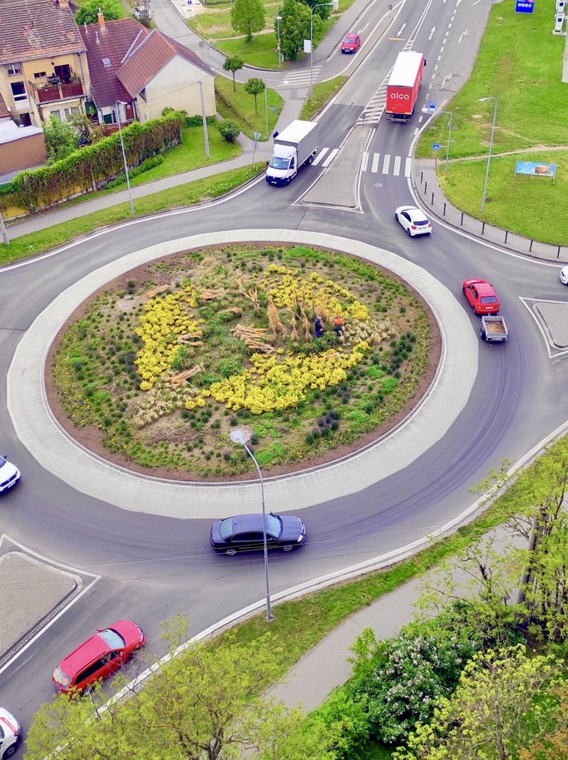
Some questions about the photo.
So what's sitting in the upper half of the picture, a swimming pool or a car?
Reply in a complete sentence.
Visible in the upper half of the picture is a car.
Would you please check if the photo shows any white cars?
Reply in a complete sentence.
Yes, a white car is visible in the scene.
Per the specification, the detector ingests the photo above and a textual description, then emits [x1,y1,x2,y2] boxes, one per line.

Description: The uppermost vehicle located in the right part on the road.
[342,30,360,52]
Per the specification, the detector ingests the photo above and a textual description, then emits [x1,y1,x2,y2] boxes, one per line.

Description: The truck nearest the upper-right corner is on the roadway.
[386,52,427,122]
